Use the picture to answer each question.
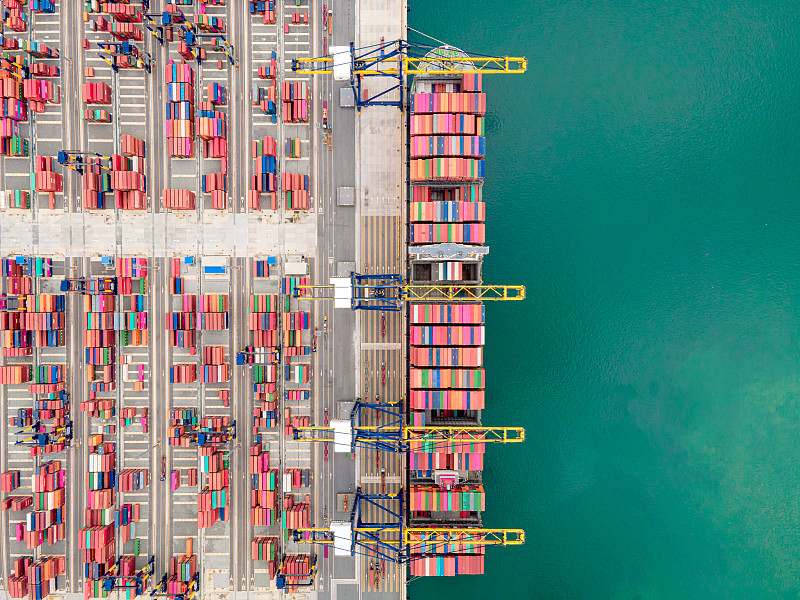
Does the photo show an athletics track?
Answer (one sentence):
No, the scene contains no athletics track.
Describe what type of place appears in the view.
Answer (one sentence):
It's a port.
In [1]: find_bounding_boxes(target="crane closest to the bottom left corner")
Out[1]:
[102,552,155,587]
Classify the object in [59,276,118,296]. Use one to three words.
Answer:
crane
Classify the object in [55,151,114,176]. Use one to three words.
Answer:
crane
